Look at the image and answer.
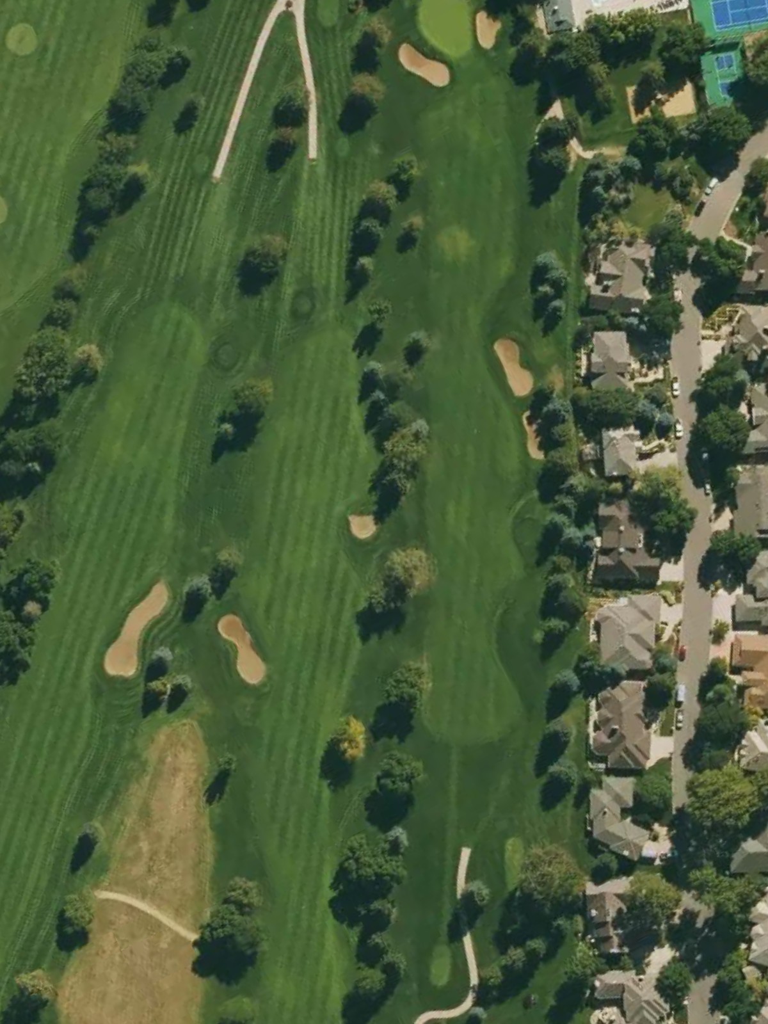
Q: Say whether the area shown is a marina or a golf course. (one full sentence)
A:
What you see here is a golf course.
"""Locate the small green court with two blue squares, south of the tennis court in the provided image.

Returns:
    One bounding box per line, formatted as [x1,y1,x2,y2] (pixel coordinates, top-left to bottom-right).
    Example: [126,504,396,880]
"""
[704,40,752,101]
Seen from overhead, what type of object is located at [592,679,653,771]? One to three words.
house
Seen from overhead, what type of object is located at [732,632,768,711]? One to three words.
house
